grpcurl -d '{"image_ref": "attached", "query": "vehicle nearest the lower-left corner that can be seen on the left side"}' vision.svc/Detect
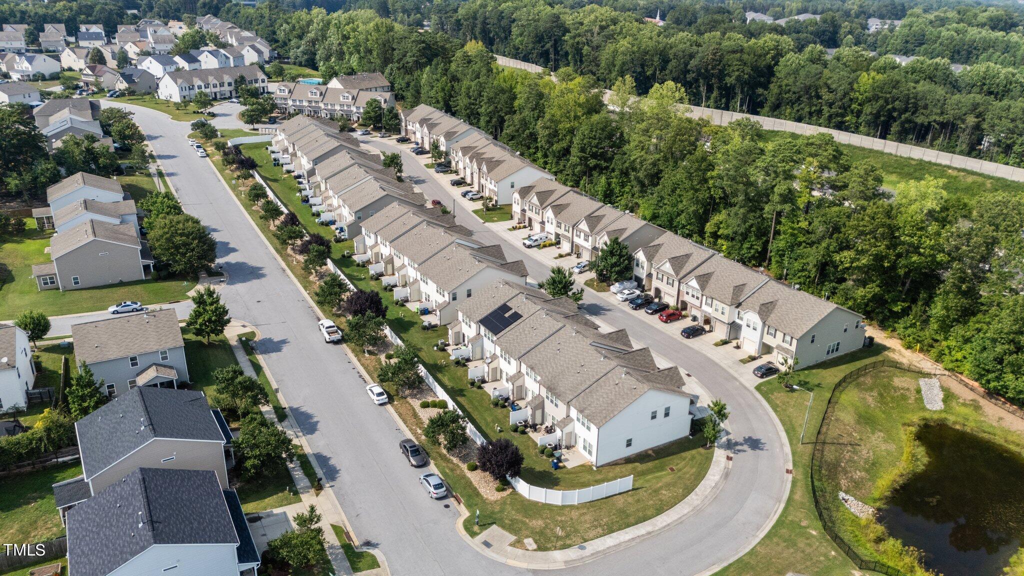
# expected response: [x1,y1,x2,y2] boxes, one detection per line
[108,300,140,312]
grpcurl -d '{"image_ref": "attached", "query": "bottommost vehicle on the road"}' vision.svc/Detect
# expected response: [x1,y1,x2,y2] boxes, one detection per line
[419,470,448,499]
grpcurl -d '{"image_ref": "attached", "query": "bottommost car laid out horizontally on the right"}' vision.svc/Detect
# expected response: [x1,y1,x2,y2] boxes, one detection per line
[750,360,782,375]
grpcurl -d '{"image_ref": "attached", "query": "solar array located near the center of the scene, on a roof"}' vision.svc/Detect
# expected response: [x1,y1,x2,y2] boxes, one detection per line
[479,299,523,333]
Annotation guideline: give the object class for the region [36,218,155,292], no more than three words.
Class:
house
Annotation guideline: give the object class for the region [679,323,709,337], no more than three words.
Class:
car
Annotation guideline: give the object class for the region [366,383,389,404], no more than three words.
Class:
car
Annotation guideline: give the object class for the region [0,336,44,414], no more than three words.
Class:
house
